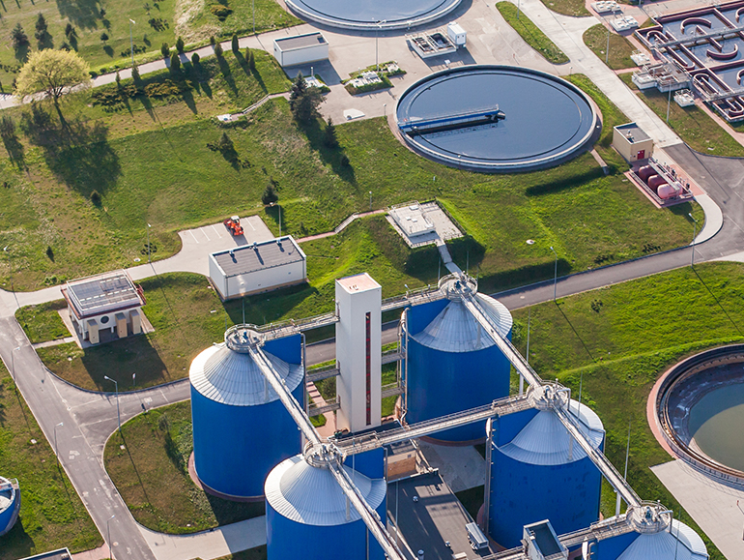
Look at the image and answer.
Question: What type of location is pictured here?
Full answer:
This looks like an industrial area.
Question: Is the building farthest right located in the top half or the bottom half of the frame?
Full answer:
The building farthest right is in the top half of the image.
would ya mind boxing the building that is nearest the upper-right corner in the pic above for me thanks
[610,120,654,164]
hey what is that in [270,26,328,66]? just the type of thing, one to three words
building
